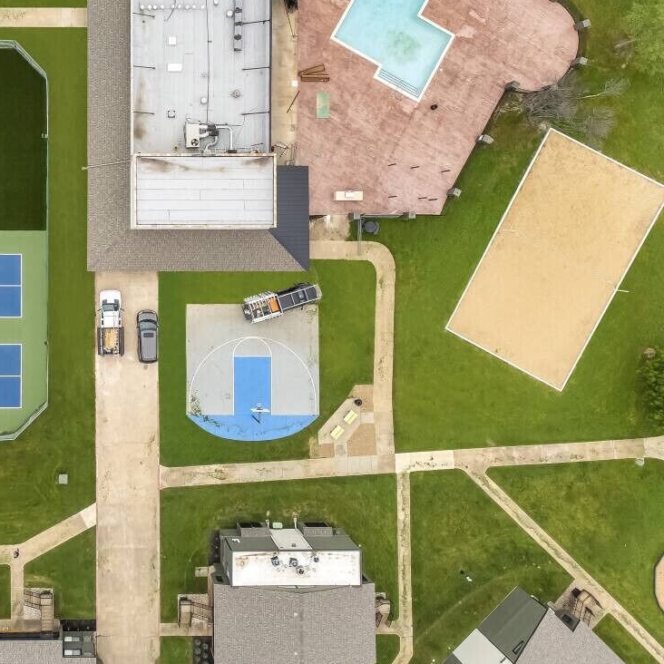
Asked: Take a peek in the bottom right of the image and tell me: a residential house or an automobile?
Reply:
residential house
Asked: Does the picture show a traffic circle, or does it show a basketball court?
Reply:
basketball court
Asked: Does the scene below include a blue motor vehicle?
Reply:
No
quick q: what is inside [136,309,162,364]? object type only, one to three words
car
